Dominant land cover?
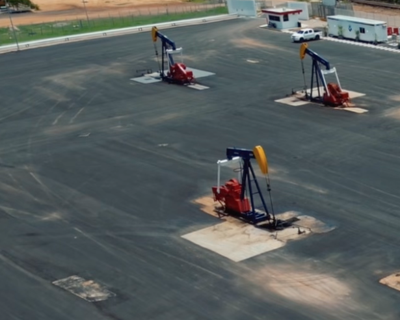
paved ground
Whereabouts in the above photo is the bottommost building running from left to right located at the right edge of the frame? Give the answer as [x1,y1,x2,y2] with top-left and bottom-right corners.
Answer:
[323,16,387,44]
